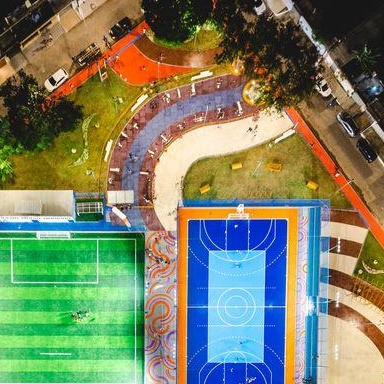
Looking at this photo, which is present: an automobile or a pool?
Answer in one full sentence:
Visible in the photo is an automobile.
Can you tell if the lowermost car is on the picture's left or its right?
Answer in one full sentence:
The lowermost car appears in the right half of the scene.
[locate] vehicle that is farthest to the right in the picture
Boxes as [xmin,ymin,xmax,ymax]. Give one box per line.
[354,136,378,163]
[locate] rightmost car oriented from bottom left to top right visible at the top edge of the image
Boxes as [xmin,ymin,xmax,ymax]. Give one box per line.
[104,14,135,42]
